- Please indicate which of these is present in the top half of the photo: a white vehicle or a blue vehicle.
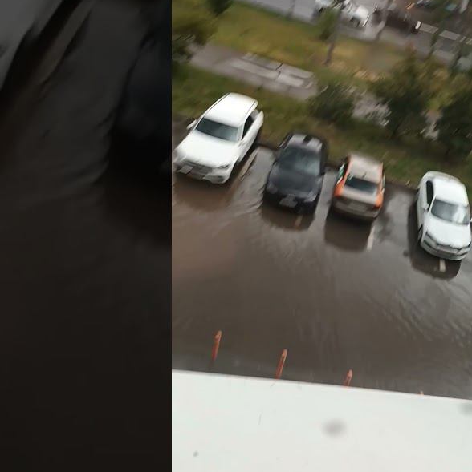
white vehicle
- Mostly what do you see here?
paved ground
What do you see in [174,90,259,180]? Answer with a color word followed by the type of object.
white car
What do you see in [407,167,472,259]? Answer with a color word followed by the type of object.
white car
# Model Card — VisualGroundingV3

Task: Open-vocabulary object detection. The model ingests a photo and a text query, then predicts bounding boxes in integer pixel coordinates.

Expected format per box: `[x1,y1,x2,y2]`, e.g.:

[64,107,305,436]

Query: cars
[407,167,472,259]
[329,148,393,224]
[174,90,259,180]
[264,127,335,212]
[371,2,427,38]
